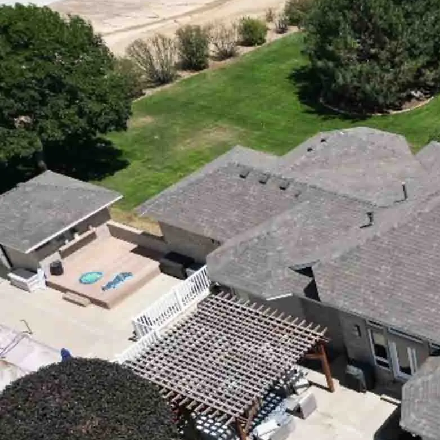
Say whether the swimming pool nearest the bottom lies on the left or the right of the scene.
left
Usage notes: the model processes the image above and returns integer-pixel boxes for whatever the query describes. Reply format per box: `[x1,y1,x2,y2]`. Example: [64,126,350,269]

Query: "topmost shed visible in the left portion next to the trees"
[0,167,125,269]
